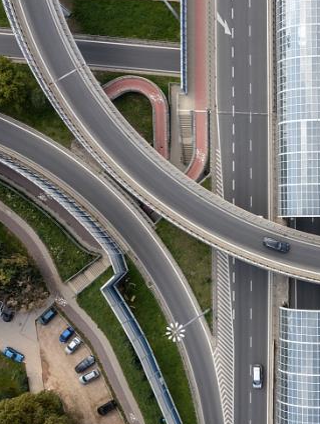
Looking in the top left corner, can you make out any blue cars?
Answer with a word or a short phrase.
No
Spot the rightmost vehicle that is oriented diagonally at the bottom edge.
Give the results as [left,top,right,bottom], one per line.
[96,399,118,417]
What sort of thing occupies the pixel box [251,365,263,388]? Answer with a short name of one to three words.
vehicle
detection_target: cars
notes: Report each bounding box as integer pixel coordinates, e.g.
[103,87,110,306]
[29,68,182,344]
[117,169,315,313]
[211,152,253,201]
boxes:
[65,336,85,355]
[79,368,101,384]
[4,347,26,362]
[74,354,97,373]
[96,399,118,417]
[251,365,263,388]
[57,325,77,343]
[1,306,16,324]
[37,307,59,325]
[0,298,8,317]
